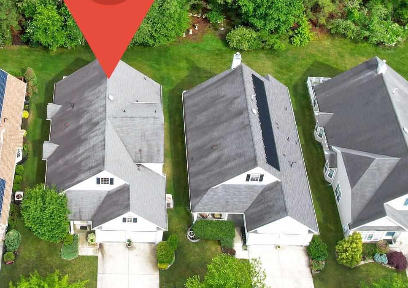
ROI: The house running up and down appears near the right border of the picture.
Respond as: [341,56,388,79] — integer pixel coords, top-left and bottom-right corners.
[312,56,408,250]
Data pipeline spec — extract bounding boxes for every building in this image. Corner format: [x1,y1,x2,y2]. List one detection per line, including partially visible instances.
[0,69,28,240]
[41,53,169,243]
[312,56,408,250]
[181,48,320,246]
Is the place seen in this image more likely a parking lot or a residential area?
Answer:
residential area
